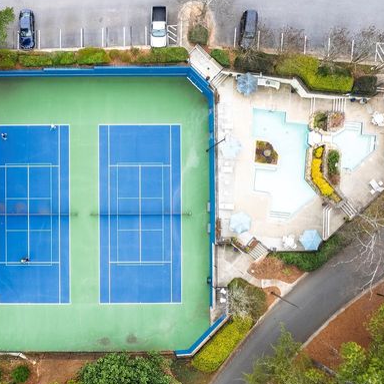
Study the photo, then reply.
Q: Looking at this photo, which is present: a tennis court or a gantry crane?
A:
tennis court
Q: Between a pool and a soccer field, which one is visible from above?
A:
pool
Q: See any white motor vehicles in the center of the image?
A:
No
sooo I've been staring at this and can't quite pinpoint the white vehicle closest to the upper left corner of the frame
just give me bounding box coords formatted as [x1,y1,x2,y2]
[150,6,168,49]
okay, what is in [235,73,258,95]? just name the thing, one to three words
umbrella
